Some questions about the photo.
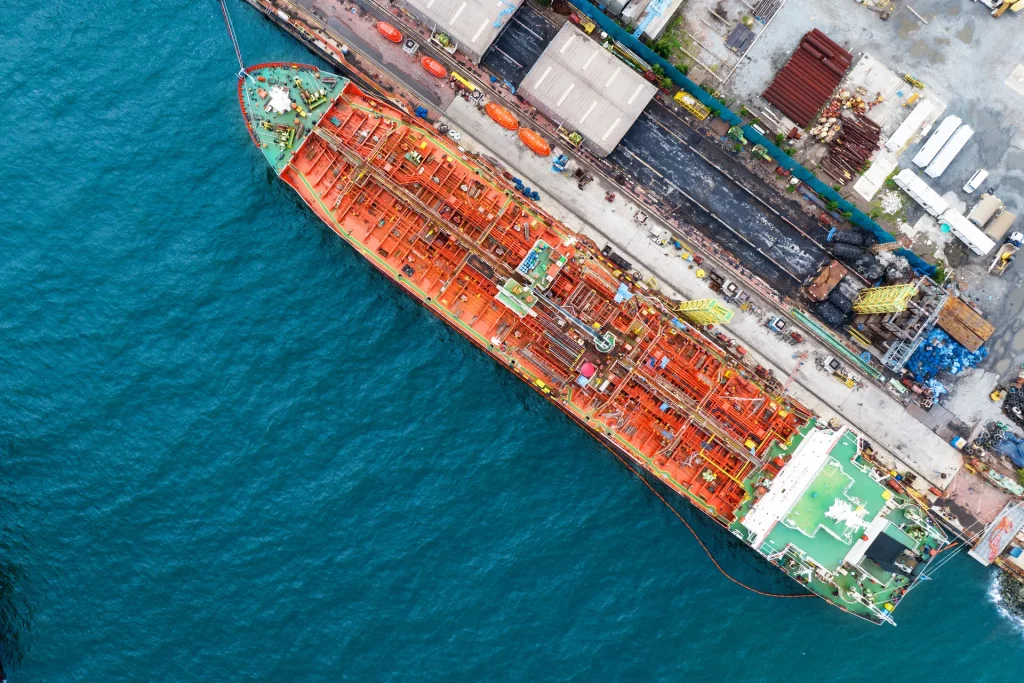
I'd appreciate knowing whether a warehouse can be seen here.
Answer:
Yes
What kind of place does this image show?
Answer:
port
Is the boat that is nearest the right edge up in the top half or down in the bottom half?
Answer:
bottom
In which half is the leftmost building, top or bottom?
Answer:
top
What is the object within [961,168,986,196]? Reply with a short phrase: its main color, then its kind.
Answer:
white vehicle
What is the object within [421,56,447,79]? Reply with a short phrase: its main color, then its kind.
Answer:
red boat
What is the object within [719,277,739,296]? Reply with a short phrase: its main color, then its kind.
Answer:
white work vehicle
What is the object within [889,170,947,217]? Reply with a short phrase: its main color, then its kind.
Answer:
white trailer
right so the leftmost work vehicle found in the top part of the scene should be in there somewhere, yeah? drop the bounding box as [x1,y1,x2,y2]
[401,37,420,57]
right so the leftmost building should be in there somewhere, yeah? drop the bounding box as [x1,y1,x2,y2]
[389,0,526,68]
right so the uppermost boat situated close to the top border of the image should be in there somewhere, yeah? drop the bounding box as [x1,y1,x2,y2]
[375,22,403,44]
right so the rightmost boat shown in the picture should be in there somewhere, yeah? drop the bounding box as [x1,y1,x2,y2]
[968,459,1024,506]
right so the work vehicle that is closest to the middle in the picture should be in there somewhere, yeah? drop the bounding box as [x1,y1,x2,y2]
[632,208,648,226]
